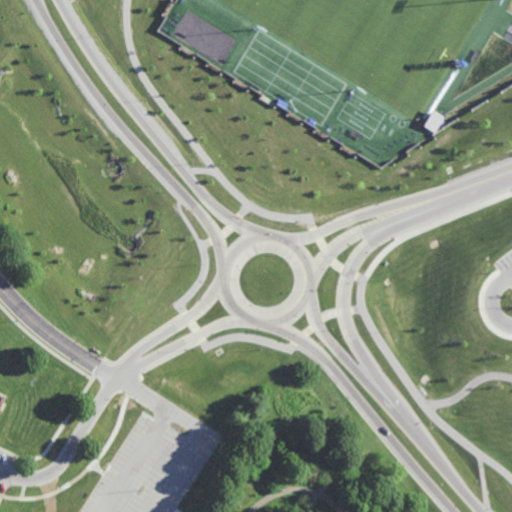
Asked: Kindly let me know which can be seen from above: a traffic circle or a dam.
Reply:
traffic circle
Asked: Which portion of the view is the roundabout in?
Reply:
center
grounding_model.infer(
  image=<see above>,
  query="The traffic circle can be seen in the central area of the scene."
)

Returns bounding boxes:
[218,231,310,328]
